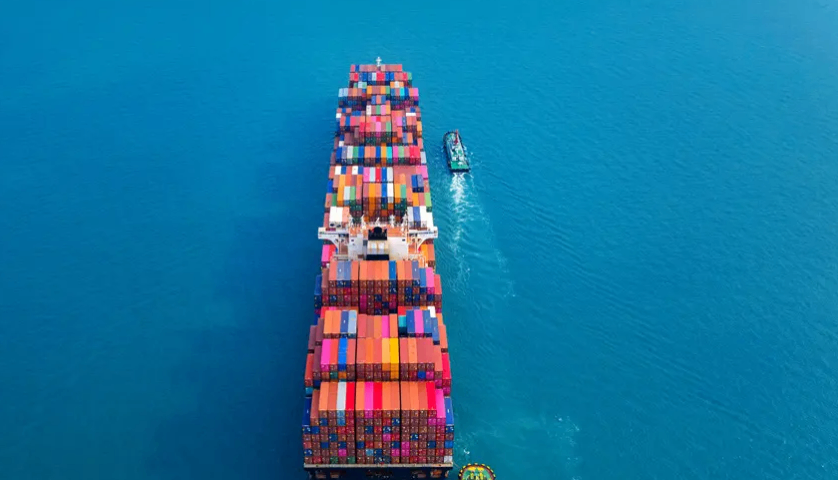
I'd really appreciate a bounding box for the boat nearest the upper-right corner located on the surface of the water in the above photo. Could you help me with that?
[443,128,471,172]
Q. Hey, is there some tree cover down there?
No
